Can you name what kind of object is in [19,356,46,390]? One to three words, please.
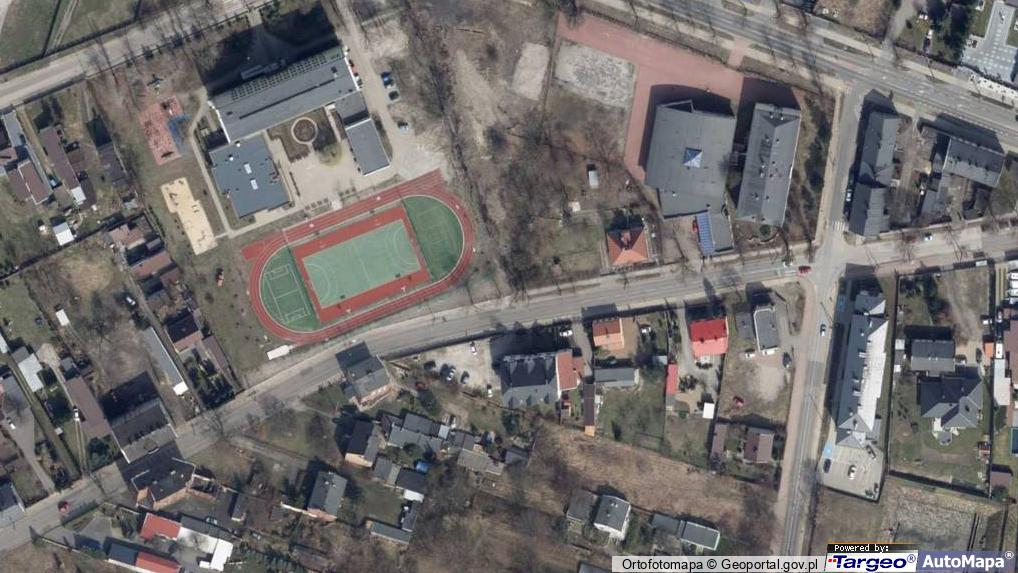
shed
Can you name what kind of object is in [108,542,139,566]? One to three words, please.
building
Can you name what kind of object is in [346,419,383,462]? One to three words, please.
house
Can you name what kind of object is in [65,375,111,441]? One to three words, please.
house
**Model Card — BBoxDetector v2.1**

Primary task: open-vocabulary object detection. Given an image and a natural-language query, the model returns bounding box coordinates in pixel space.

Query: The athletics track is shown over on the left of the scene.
[242,168,475,341]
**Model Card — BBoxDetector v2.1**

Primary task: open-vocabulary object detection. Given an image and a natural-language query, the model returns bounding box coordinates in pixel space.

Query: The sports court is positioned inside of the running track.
[292,207,429,321]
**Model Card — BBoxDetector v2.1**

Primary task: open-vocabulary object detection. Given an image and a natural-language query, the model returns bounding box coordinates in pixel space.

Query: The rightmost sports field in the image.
[402,196,461,284]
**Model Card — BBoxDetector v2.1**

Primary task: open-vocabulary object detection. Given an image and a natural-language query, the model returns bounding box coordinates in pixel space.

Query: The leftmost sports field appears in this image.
[263,242,320,328]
